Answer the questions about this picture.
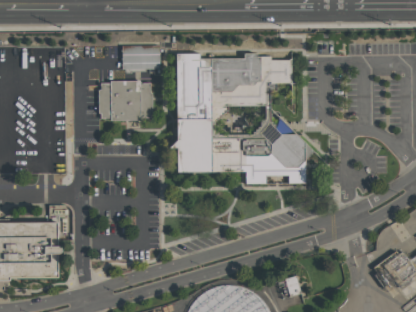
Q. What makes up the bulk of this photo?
paved ground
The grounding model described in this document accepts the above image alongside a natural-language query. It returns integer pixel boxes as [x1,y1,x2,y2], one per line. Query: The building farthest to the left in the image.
[0,222,62,282]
